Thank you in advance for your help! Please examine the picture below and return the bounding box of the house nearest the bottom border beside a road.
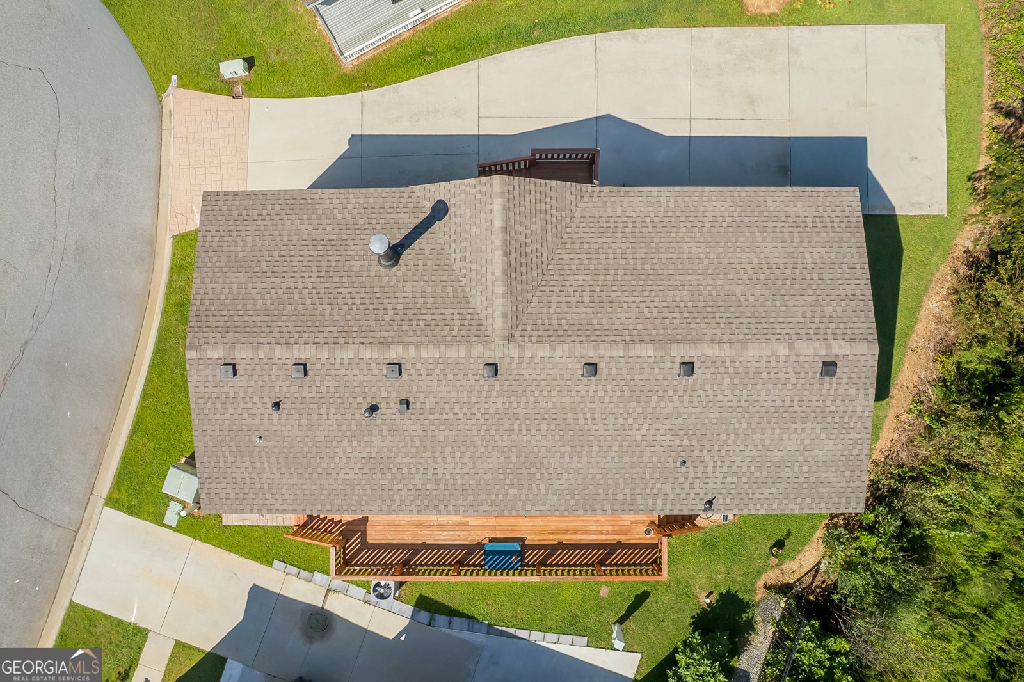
[184,174,879,517]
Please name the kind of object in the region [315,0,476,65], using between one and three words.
shed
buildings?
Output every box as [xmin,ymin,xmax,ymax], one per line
[315,0,476,65]
[184,174,879,517]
